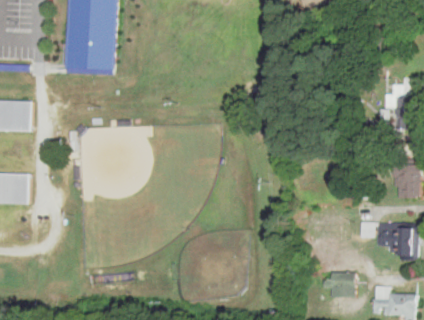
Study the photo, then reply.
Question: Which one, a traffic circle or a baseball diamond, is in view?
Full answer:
There is a baseball diamond in the scene.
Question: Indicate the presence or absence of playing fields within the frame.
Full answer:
Yes, this view includes a playing field.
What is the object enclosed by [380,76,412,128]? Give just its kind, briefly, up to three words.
house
